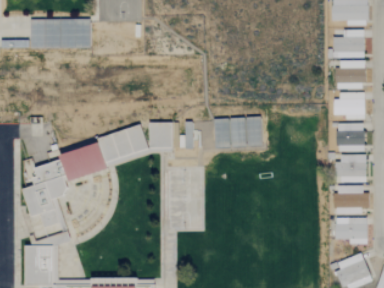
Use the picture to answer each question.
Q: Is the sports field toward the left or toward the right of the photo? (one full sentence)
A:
The sports field appears in the right half of the scene.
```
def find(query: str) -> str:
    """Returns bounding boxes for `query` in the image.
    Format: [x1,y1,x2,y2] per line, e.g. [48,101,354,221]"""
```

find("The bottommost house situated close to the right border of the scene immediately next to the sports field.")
[332,253,372,288]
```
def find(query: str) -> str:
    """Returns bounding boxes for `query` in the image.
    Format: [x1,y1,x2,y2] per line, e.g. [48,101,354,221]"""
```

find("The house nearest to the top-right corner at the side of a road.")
[332,0,370,26]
